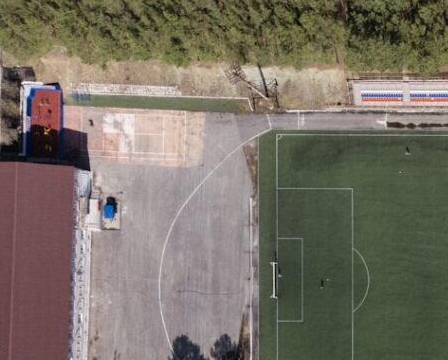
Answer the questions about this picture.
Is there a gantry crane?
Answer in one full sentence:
No, the scene contains no gantry crane.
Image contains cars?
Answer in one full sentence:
No, I can see no car in this picture.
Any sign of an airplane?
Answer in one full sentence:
No, no airplane is visible in the scene.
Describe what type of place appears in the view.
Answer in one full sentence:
The picture captures a sports ground.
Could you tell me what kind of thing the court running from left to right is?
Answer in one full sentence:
Specifically, the court running from left to right is a basketball court.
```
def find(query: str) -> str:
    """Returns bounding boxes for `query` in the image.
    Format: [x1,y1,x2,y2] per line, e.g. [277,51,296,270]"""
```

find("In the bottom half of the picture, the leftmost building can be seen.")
[0,160,93,360]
